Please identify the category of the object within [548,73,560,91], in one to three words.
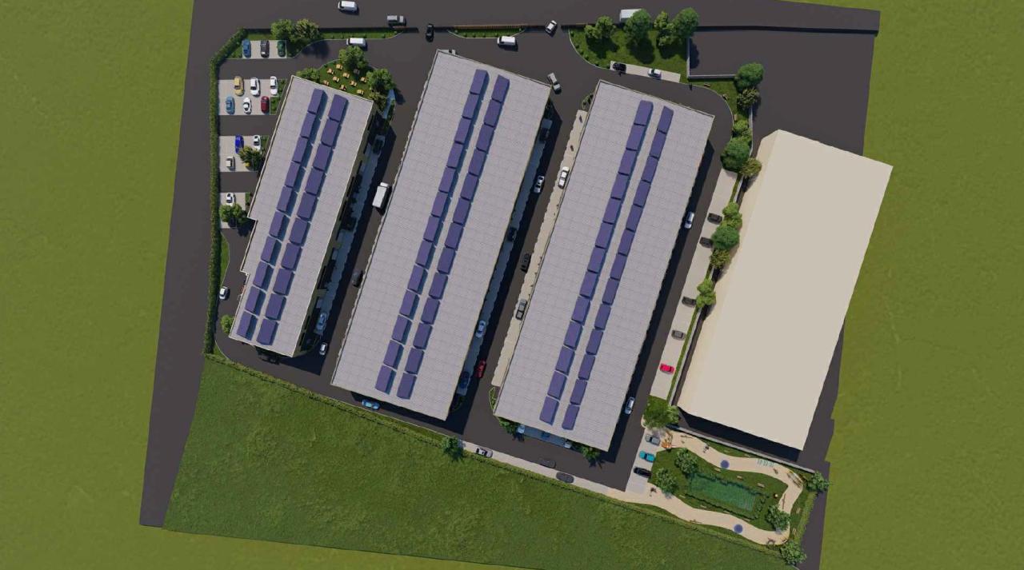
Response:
vehicle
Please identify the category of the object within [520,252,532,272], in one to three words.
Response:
vehicle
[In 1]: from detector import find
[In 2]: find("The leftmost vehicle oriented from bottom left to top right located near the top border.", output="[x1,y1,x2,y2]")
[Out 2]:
[545,19,557,35]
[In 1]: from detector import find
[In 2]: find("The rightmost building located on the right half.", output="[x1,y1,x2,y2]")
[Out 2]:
[678,130,893,450]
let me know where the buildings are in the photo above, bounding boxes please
[495,80,714,451]
[331,50,551,421]
[229,76,381,357]
[678,130,893,450]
